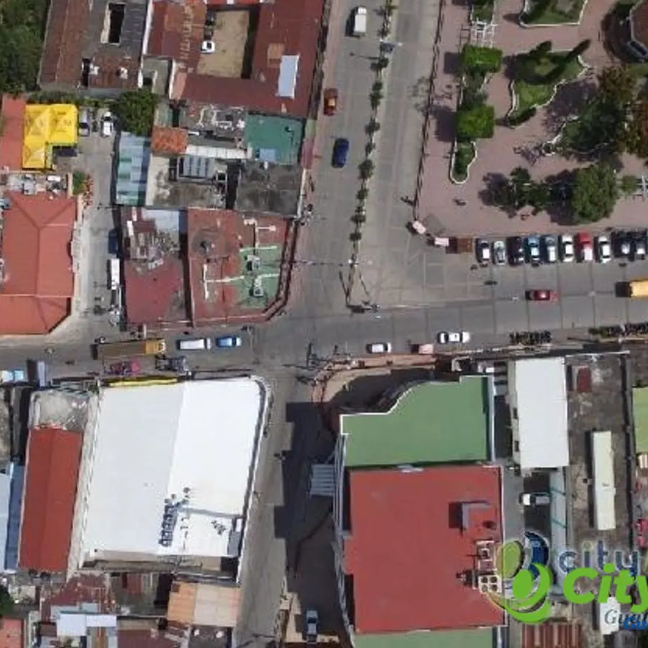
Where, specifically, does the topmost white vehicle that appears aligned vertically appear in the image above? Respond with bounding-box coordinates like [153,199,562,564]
[352,8,367,40]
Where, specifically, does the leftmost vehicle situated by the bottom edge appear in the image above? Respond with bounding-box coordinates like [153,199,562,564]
[305,608,318,634]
